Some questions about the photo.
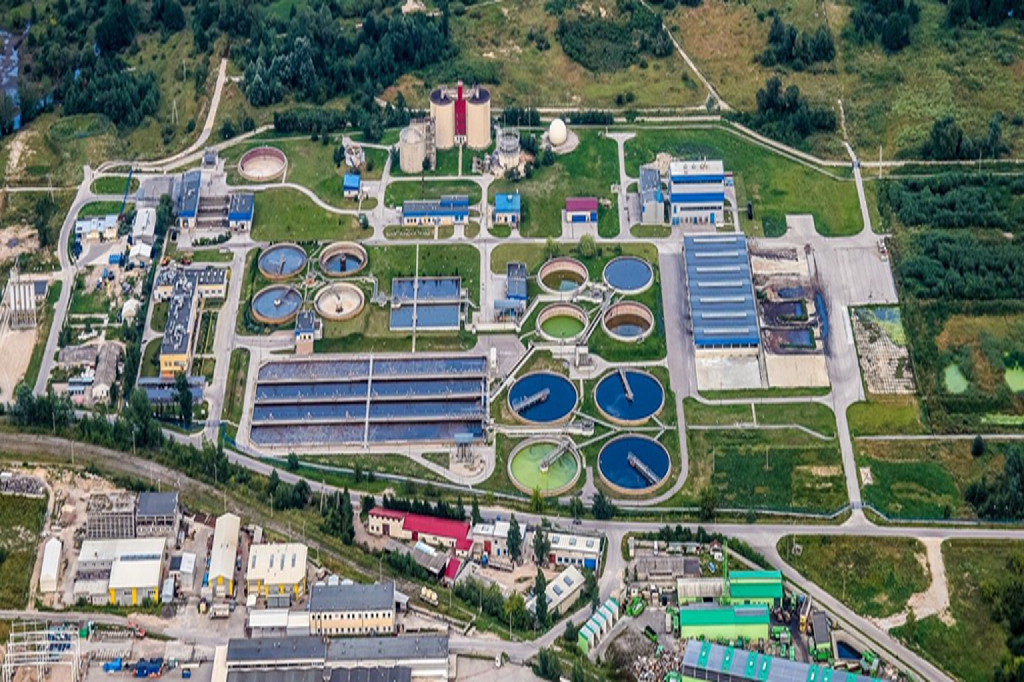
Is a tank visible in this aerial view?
Yes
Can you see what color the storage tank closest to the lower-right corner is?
blue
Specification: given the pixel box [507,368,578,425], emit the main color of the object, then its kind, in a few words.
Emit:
blue storage tank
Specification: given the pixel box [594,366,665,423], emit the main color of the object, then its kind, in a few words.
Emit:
blue storage tank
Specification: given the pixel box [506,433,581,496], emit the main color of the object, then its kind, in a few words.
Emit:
green storage tank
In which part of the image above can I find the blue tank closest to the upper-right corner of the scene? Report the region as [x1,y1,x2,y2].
[602,254,654,294]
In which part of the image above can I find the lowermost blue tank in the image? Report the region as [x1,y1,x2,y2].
[597,431,672,493]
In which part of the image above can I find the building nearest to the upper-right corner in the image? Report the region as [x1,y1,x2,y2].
[666,160,732,225]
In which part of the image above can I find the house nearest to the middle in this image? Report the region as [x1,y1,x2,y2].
[506,262,526,310]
